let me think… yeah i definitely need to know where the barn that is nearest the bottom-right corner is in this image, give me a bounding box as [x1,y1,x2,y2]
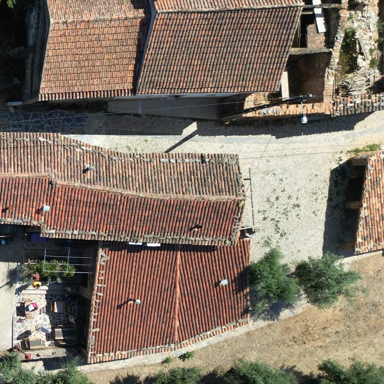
[335,153,384,254]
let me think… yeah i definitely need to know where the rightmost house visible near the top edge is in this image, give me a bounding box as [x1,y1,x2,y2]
[311,0,384,122]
